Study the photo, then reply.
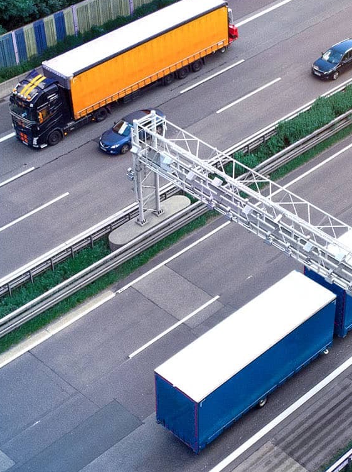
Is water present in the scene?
No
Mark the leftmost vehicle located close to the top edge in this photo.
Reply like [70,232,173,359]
[2,0,227,150]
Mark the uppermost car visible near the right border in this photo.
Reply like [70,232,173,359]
[307,37,352,80]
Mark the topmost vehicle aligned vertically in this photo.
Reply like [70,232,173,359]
[225,9,238,50]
